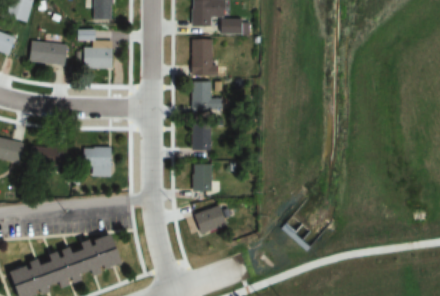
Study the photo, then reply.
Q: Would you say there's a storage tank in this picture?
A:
No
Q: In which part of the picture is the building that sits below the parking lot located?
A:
bottom left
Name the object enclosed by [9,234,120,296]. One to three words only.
building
